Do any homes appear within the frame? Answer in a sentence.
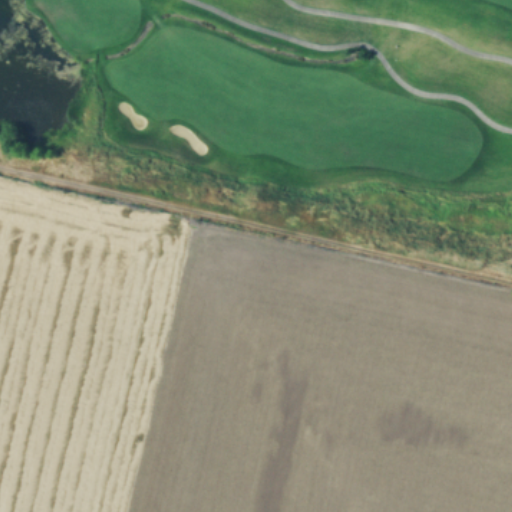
No, this view has no home in it.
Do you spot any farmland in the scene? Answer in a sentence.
Yes, there is farmland in the image.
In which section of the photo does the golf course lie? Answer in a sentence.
The golf course sits in the top section of the image.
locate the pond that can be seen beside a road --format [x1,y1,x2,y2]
[0,0,84,153]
